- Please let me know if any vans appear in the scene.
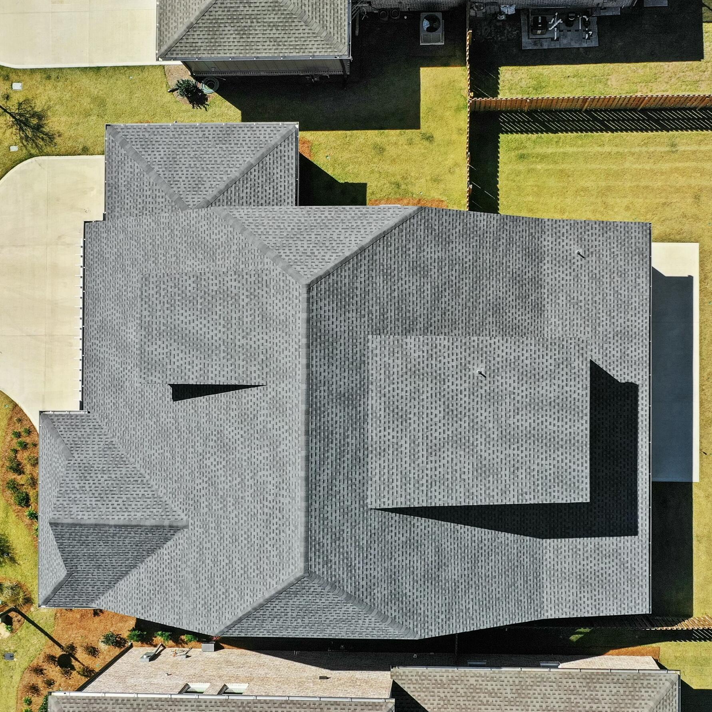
No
